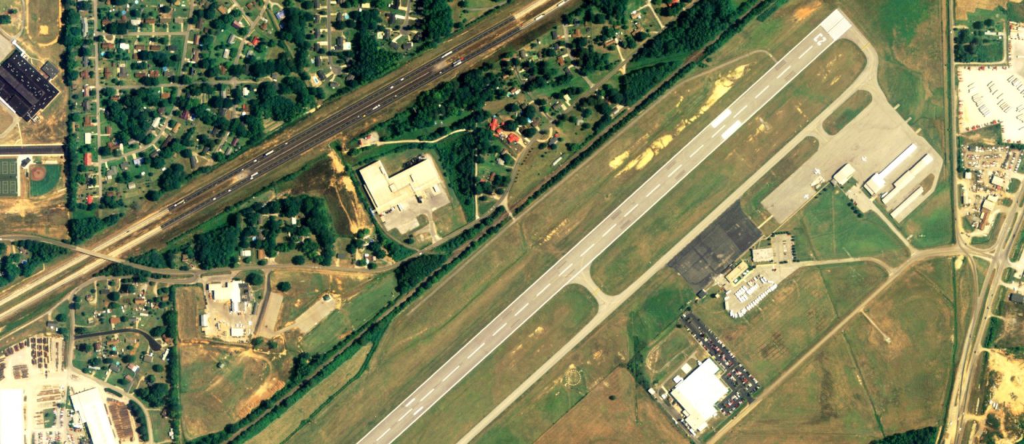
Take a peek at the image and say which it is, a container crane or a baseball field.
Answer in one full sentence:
The image shows a baseball field.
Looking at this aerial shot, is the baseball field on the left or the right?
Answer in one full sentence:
The baseball field sits on the left side.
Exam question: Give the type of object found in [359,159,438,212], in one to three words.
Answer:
building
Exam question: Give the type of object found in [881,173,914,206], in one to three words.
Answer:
hangar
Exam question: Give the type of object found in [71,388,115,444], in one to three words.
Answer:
building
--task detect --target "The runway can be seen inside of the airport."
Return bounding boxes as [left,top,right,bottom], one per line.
[357,9,852,444]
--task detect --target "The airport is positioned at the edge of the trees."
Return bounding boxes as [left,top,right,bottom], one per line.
[357,9,943,444]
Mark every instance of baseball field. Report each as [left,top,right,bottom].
[29,164,61,198]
